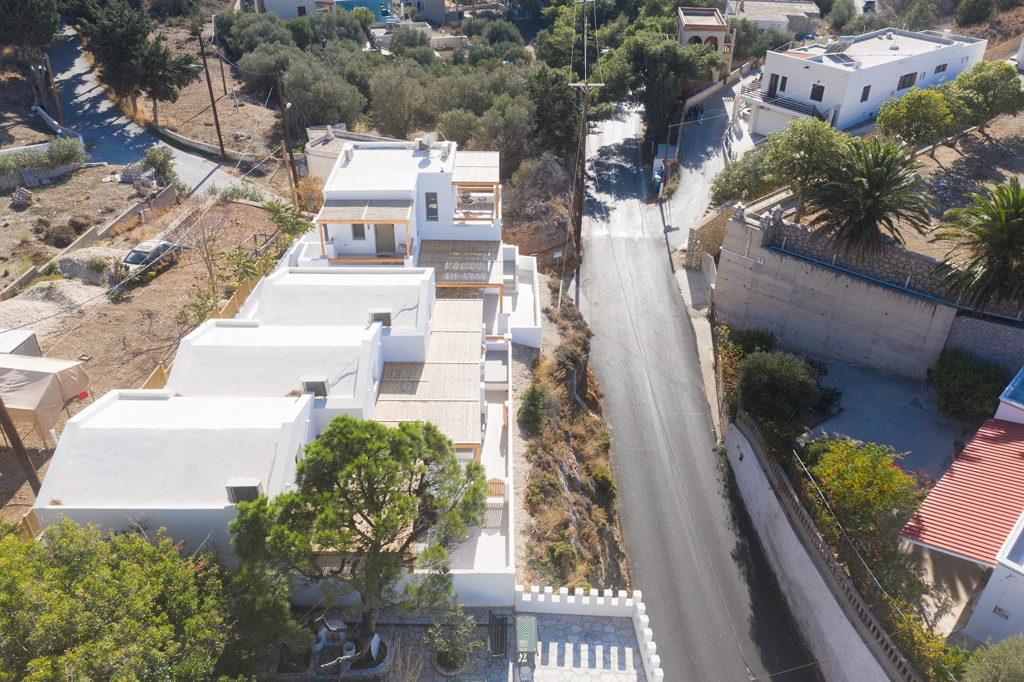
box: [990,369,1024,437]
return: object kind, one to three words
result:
house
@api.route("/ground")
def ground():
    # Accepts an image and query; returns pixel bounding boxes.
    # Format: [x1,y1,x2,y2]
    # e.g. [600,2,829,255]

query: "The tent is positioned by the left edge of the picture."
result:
[0,357,93,449]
